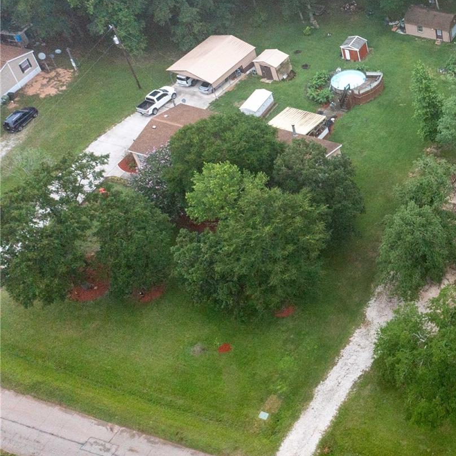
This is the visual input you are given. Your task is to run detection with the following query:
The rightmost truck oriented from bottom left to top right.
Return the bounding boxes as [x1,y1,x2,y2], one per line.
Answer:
[138,88,176,115]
